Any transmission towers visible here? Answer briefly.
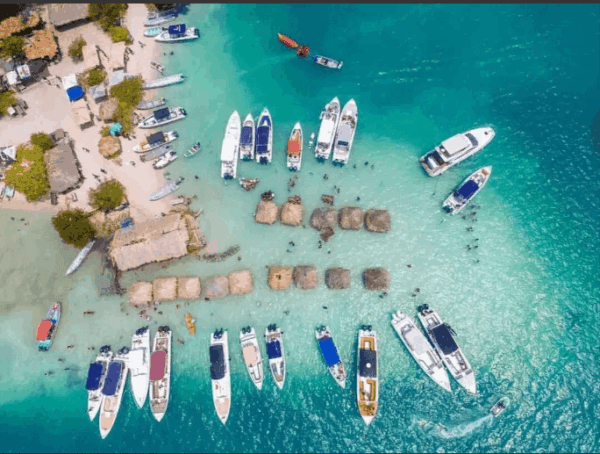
No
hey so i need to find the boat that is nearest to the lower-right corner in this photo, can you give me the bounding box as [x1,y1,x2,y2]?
[489,397,508,417]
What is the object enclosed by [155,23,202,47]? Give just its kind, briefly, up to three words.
boat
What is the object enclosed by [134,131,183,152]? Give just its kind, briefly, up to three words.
boat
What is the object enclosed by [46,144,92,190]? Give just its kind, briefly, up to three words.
house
